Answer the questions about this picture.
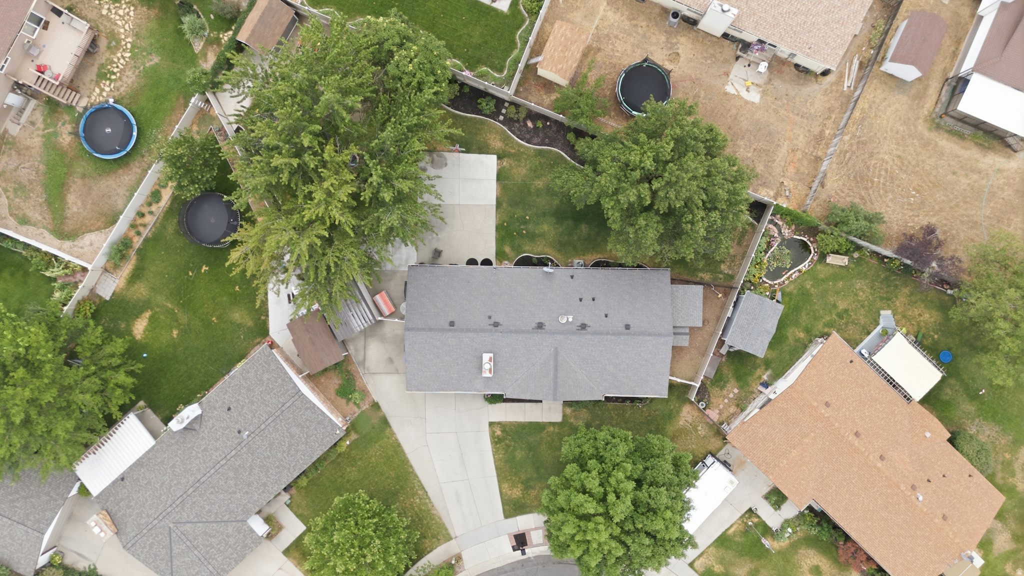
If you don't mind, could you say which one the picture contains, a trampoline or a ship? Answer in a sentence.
The one in the frame is a trampoline.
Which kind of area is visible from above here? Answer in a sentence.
The area seen from above is a residential area.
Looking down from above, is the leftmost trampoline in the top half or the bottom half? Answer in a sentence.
You can find the leftmost trampoline in the top half.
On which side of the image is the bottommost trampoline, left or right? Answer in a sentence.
It is on the left.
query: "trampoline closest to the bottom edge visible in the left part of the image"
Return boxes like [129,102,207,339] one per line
[175,192,243,247]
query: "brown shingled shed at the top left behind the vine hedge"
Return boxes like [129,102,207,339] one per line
[237,0,296,57]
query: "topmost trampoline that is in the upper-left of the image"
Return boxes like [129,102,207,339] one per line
[76,100,152,159]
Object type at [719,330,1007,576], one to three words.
house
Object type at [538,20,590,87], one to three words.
shed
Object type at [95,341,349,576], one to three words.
house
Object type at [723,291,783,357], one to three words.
shed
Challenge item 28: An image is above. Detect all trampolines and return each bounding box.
[617,52,673,115]
[76,100,152,159]
[175,192,243,247]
